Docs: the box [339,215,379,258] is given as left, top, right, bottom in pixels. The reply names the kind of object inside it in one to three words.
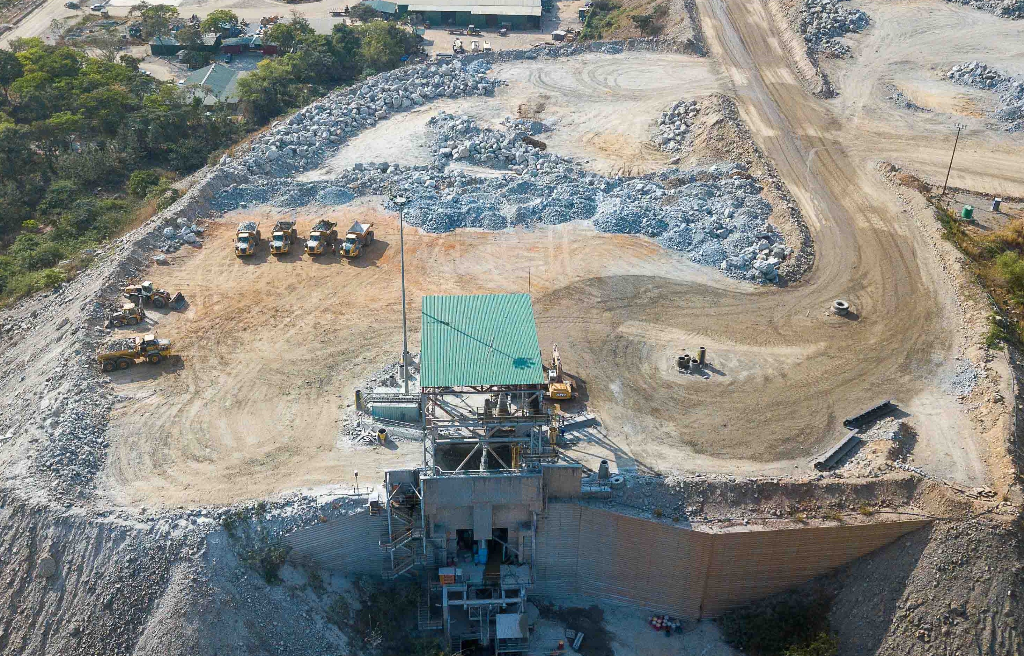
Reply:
truck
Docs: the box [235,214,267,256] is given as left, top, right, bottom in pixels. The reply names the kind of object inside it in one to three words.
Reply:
truck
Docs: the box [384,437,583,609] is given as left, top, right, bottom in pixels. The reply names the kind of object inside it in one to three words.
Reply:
building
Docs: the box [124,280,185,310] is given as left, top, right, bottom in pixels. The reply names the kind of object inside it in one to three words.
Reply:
work vehicle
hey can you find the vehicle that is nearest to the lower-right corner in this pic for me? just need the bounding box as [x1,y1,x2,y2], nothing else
[548,336,574,399]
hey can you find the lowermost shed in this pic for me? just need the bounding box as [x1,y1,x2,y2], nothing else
[495,611,526,656]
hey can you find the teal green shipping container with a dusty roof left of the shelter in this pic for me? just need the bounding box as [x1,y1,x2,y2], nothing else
[370,396,419,423]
